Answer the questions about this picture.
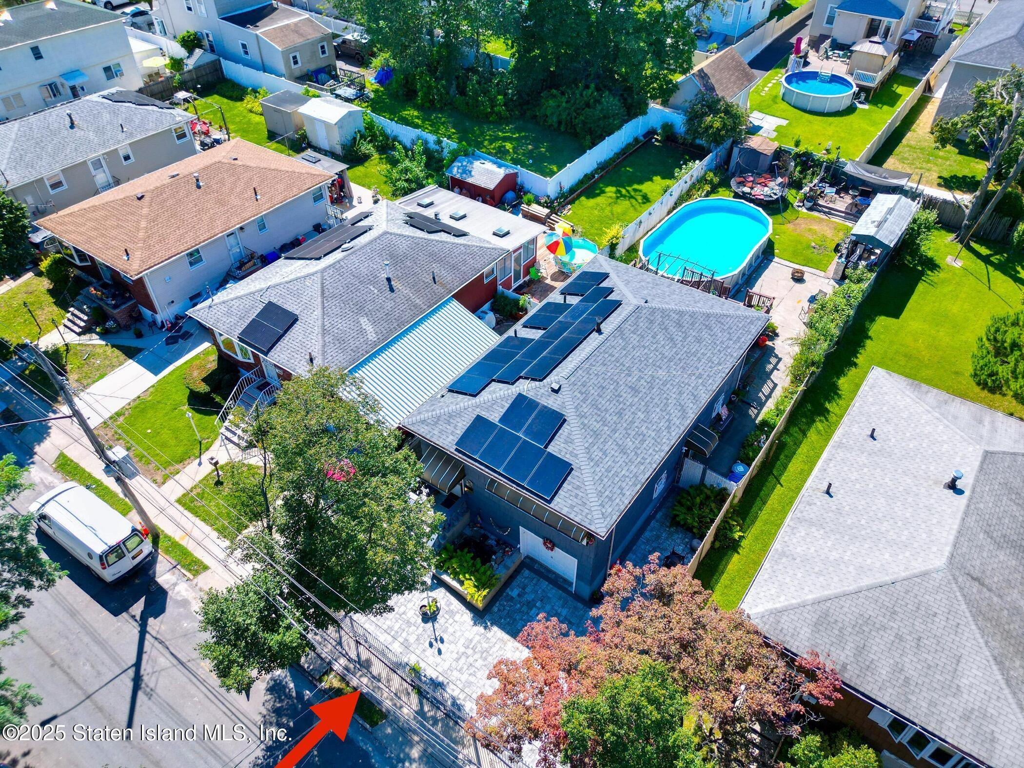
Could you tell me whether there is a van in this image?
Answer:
Yes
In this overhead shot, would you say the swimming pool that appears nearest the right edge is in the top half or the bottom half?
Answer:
top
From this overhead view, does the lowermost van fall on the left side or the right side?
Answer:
left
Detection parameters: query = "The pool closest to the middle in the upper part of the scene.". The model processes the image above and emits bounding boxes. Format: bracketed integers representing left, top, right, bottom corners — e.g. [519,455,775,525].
[548,239,606,278]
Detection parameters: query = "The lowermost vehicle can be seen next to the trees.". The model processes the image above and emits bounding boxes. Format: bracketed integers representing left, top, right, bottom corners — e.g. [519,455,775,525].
[39,480,159,590]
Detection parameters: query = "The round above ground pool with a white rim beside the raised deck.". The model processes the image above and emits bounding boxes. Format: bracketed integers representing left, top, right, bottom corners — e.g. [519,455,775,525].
[780,69,859,112]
